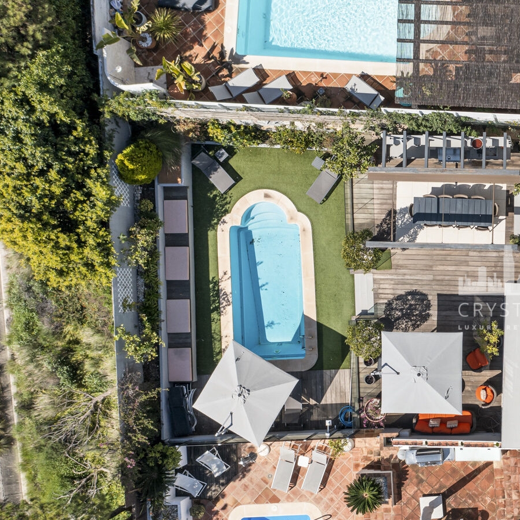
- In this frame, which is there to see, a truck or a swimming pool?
swimming pool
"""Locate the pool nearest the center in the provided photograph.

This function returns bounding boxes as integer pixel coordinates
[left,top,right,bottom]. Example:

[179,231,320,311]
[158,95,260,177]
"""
[218,189,317,371]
